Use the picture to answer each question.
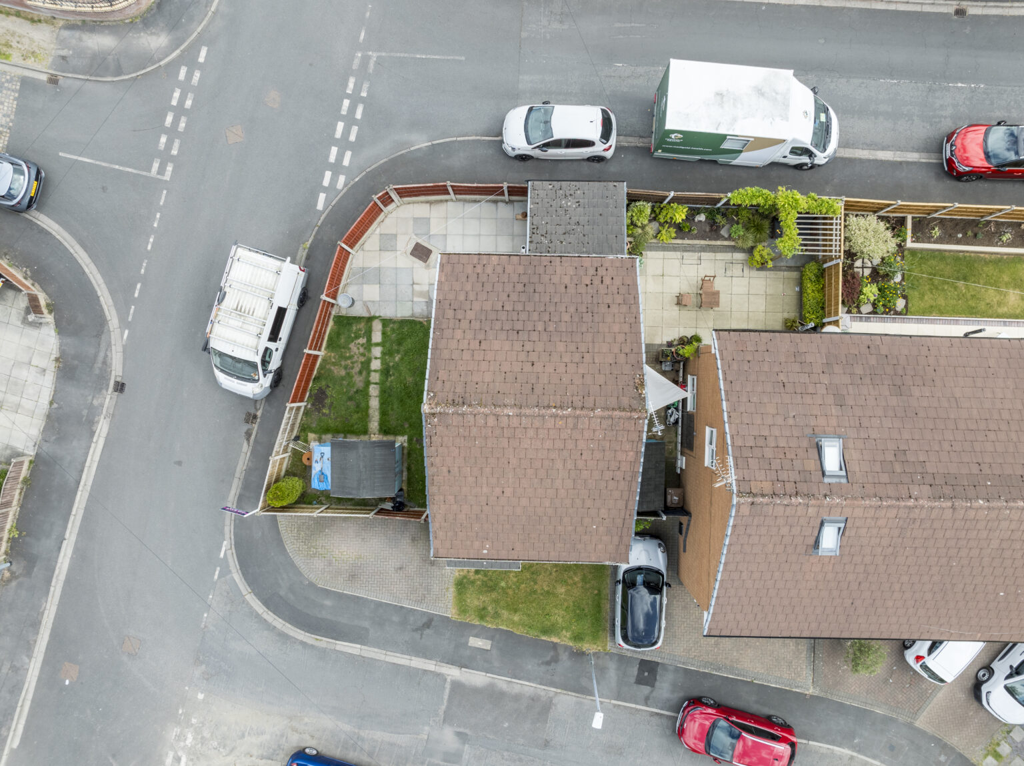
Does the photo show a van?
Yes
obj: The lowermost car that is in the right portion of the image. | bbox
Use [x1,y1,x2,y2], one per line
[673,694,801,766]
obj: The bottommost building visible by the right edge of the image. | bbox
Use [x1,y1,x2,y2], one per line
[677,308,1024,647]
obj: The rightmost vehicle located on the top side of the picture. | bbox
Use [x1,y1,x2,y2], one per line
[936,114,1024,184]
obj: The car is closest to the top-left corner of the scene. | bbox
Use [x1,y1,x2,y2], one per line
[0,147,53,215]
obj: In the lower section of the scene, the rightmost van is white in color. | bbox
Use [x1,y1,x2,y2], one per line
[972,646,1024,730]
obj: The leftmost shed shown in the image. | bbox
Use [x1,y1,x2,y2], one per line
[330,439,403,500]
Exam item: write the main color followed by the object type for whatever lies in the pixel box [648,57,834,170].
white truck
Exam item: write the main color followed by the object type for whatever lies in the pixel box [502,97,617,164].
white car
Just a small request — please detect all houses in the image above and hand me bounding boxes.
[677,308,1024,647]
[407,178,663,575]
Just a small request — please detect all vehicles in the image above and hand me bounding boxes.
[902,644,991,683]
[972,646,1024,730]
[673,694,801,766]
[936,114,1024,184]
[502,97,617,164]
[208,245,310,399]
[648,57,834,170]
[0,147,53,215]
[610,533,673,653]
[281,746,353,766]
